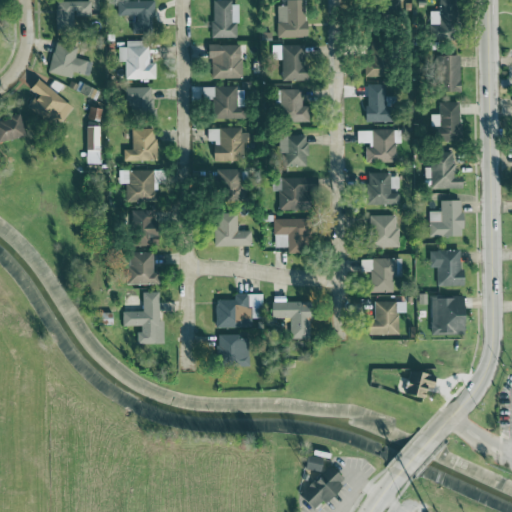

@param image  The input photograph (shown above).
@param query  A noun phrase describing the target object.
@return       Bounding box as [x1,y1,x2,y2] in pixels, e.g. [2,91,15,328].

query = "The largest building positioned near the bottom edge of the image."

[303,464,348,510]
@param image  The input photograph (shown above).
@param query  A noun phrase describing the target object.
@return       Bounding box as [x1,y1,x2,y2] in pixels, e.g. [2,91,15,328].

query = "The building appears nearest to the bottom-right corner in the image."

[408,370,440,400]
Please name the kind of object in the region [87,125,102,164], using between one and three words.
shed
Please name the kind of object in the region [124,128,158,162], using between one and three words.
house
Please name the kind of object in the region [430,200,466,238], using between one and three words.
house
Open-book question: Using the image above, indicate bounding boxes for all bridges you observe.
[386,412,455,482]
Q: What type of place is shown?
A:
residential area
